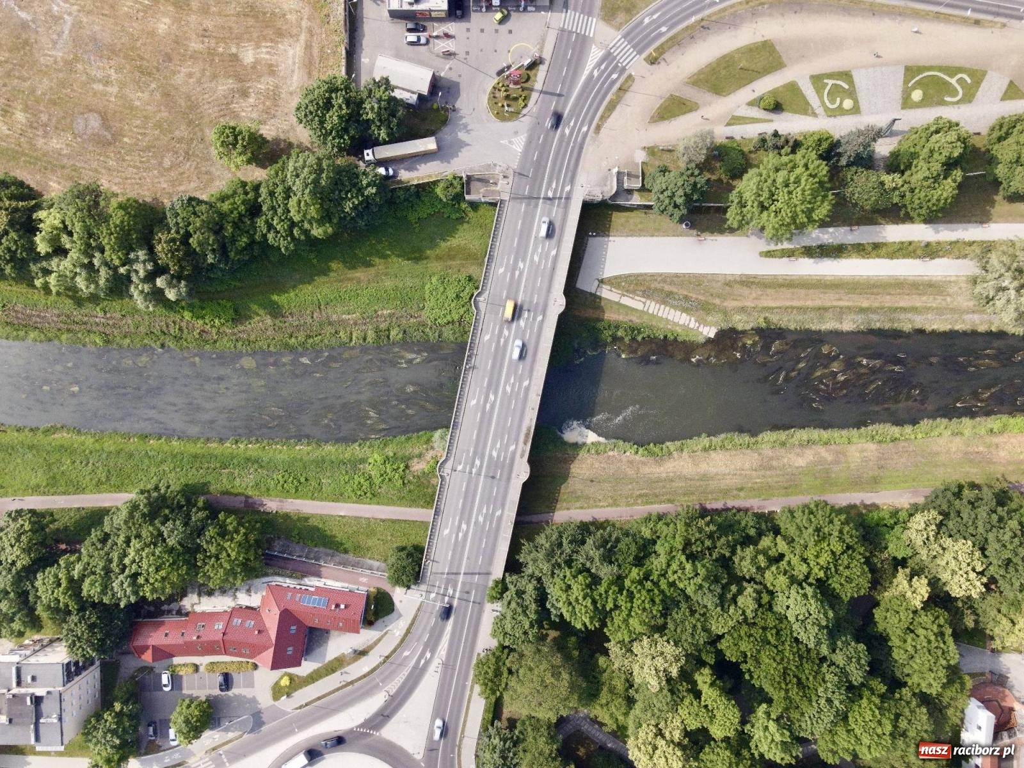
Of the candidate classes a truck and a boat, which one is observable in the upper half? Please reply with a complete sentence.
Looking in the upper half, you will find a truck.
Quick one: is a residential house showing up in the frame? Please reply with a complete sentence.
Yes, this view includes a residential house.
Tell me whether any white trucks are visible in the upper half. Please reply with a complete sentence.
Yes, there is a white truck in the upper half.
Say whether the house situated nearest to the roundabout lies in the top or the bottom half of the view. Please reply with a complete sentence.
The bottom half of the photo is where the house situated nearest to the roundabout is.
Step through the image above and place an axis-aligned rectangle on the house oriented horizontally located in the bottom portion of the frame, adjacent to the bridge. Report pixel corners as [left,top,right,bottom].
[129,578,369,670]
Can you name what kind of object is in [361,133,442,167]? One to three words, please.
truck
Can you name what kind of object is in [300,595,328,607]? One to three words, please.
solar panel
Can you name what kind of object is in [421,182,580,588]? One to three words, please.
bridge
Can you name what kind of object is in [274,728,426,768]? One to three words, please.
roundabout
